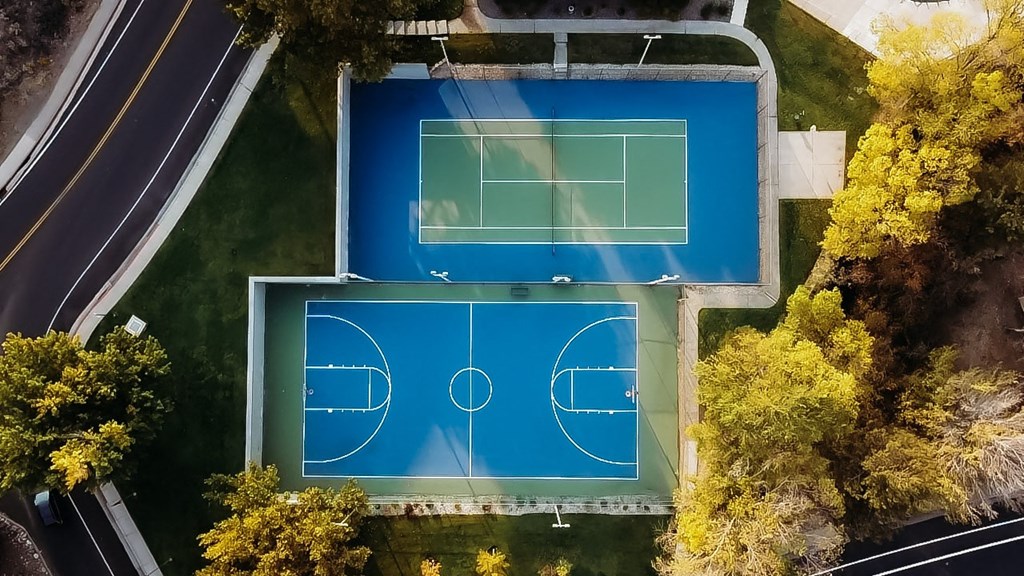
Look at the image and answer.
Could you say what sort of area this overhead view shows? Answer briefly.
sports ground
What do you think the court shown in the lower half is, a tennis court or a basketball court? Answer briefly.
basketball court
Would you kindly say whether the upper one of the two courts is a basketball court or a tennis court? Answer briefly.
tennis court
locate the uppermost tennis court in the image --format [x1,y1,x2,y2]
[349,79,758,281]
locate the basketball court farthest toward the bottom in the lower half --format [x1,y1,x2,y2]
[263,282,679,497]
